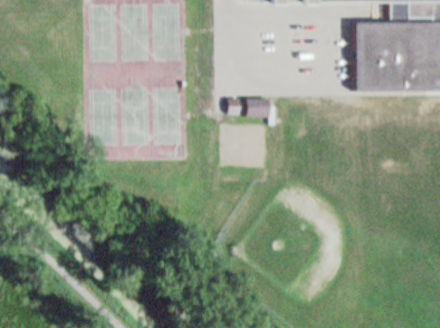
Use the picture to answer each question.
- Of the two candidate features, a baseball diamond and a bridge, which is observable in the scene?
baseball diamond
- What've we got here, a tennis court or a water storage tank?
tennis court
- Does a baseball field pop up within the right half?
Yes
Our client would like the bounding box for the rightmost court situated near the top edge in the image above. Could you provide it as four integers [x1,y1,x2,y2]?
[151,4,181,62]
